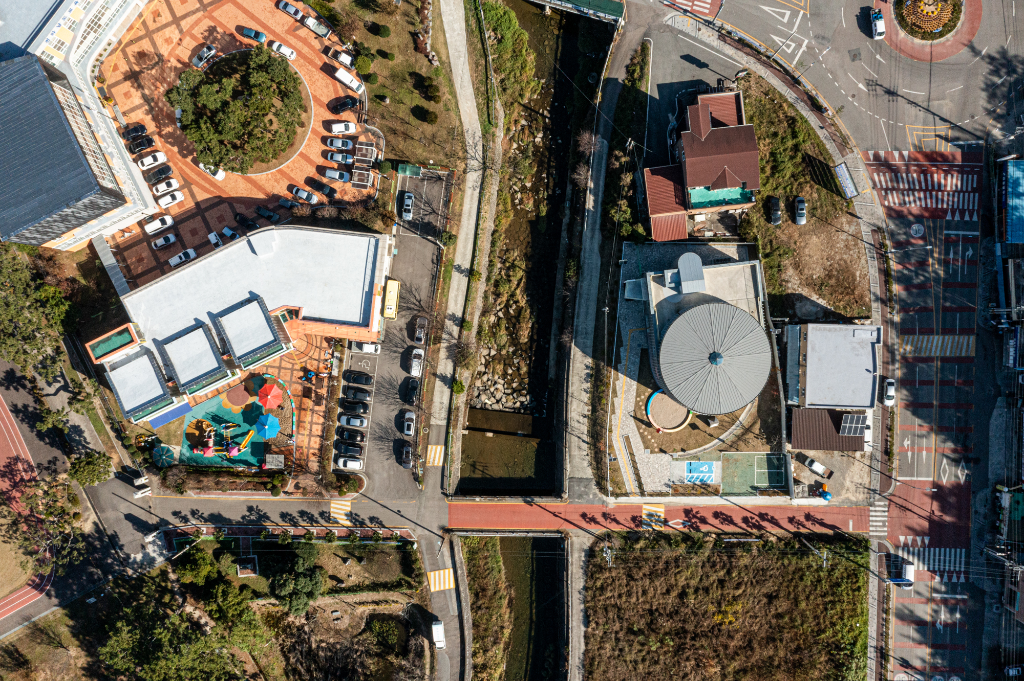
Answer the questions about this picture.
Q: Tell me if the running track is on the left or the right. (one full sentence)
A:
It is on the left.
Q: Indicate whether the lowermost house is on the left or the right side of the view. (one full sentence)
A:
The lowermost house appears in the right half of the scene.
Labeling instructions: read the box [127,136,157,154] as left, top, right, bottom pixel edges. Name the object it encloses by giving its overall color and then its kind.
black car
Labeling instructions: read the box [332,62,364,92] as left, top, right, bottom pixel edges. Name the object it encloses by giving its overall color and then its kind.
white truck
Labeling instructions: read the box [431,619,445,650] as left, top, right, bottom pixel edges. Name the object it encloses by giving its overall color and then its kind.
white vehicle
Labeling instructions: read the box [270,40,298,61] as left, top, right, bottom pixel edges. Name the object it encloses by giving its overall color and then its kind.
white car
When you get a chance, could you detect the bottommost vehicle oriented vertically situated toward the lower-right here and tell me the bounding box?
[898,553,918,592]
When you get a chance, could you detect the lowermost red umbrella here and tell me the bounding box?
[257,383,283,411]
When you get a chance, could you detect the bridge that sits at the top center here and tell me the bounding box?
[530,0,626,26]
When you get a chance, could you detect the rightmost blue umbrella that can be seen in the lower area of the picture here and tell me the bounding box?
[255,412,294,440]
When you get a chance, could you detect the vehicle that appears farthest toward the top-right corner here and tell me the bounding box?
[870,9,888,41]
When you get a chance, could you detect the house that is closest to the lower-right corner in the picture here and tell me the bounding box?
[983,554,1024,624]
